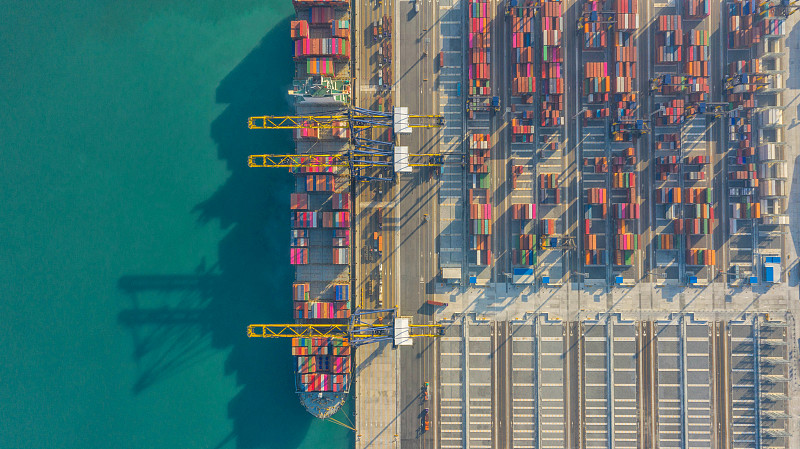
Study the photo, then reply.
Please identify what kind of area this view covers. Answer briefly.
port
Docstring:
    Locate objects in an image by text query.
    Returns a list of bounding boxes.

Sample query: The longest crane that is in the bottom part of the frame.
[247,305,445,347]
